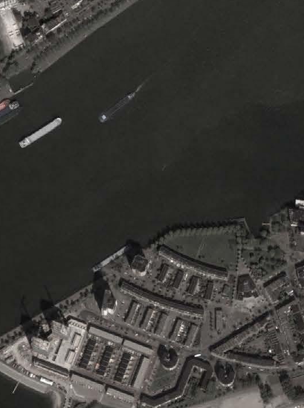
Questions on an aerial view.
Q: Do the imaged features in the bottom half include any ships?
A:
No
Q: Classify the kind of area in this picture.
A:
residential area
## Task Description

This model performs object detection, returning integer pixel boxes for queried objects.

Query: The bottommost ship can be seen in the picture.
[20,119,61,147]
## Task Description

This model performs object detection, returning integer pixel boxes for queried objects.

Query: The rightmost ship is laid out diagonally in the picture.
[99,93,136,121]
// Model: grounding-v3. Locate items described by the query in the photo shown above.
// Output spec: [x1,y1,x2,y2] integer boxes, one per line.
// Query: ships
[20,119,61,147]
[0,99,10,108]
[99,93,136,121]
[0,104,20,120]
